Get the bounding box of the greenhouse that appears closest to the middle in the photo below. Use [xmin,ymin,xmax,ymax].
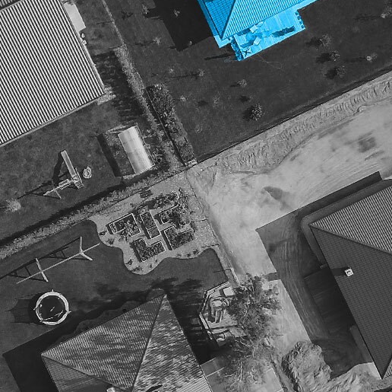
[118,126,154,175]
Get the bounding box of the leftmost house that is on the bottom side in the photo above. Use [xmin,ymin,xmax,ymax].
[38,295,209,392]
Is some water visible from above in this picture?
No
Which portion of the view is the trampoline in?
bottom left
